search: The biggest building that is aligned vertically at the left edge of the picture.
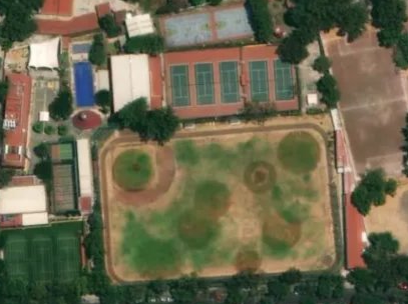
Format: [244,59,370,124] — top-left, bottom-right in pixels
[3,74,34,172]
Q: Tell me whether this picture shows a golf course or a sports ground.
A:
sports ground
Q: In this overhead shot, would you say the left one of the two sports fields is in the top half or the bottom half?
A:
bottom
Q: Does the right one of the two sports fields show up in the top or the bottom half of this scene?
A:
top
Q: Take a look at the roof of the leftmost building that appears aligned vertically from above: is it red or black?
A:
red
